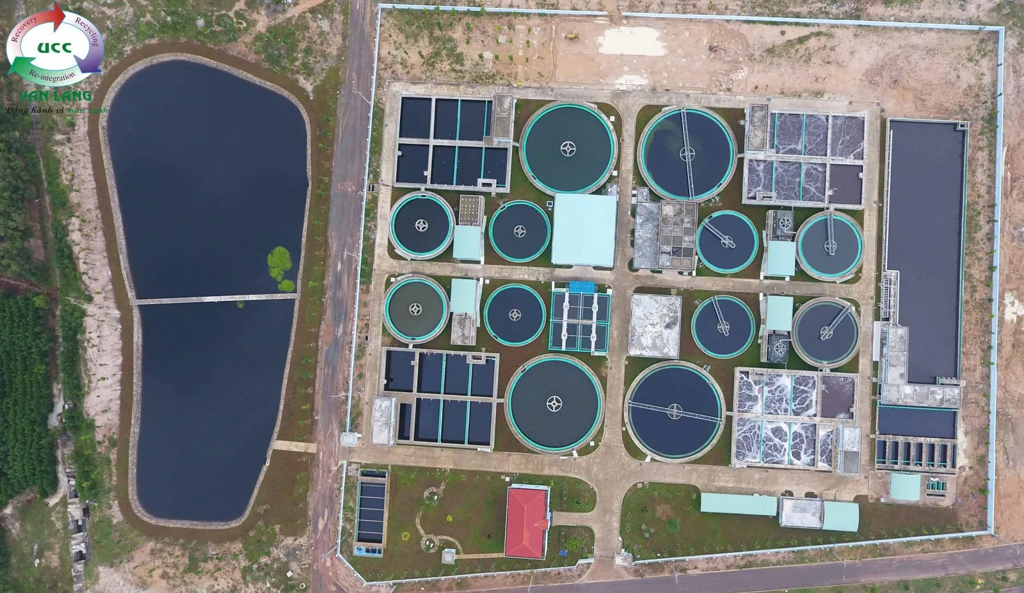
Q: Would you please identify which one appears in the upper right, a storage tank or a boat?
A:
storage tank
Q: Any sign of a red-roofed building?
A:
Yes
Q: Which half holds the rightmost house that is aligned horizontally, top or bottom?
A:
bottom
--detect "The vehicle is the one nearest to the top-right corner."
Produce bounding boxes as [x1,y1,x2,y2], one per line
[708,43,726,56]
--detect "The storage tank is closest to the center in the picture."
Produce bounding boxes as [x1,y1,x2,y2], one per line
[484,283,547,346]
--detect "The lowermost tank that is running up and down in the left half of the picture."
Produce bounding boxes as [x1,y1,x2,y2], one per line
[354,468,388,549]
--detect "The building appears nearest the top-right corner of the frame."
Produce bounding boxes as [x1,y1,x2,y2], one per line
[742,104,769,152]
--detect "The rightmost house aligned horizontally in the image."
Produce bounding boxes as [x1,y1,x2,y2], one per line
[879,385,961,408]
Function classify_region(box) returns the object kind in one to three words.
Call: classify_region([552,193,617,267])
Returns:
building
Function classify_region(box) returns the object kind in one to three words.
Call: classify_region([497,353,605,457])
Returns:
storage tank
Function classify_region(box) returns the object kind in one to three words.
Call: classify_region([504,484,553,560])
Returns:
house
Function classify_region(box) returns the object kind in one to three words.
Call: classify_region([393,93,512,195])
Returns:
storage tank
